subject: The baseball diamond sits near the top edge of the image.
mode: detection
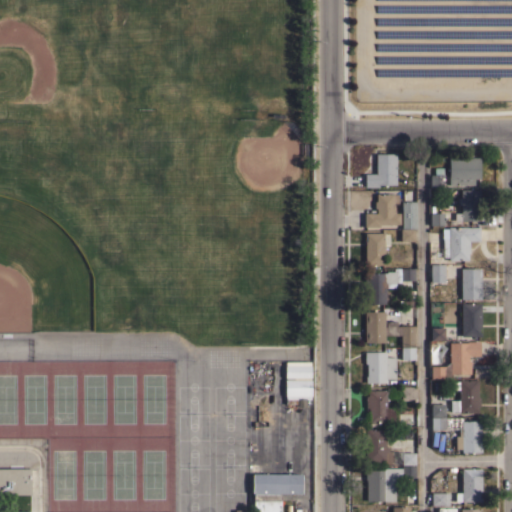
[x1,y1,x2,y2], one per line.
[0,18,56,105]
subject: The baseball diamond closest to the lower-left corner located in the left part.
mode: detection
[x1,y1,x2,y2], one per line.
[0,196,94,332]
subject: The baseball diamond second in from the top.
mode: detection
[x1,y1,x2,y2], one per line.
[235,122,304,194]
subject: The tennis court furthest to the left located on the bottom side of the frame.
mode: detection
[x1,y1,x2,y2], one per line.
[0,375,20,426]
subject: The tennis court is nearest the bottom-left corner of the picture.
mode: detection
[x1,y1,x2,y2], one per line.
[52,450,80,501]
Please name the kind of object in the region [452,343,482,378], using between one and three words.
house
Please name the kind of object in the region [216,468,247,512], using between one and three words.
basketball court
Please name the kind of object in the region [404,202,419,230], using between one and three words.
building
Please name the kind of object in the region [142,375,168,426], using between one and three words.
tennis court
